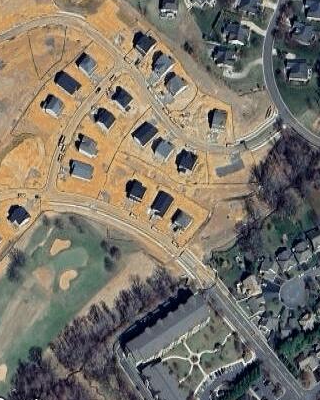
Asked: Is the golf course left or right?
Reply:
left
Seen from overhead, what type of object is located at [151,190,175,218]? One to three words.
house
